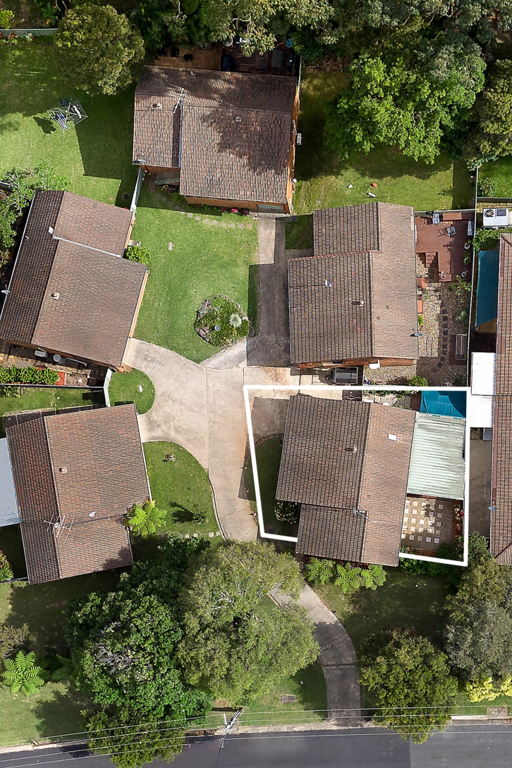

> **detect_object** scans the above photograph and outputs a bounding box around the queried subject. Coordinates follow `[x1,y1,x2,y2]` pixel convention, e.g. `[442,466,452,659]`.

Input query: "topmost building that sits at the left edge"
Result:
[0,190,149,367]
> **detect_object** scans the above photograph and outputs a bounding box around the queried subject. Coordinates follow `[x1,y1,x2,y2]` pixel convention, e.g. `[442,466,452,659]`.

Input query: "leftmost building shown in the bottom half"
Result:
[0,404,153,584]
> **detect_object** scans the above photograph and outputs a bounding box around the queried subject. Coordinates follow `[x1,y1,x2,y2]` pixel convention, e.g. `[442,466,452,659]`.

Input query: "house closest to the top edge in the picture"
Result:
[132,64,301,213]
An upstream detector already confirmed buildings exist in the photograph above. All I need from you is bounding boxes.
[468,233,512,564]
[132,64,301,213]
[0,404,153,584]
[287,201,421,367]
[275,395,466,567]
[0,190,149,367]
